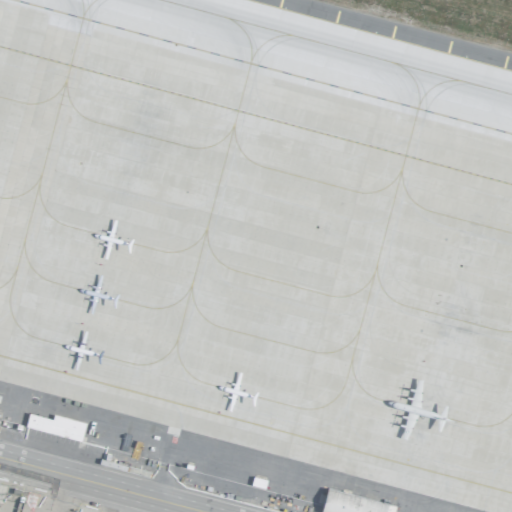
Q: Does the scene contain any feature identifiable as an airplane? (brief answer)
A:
Yes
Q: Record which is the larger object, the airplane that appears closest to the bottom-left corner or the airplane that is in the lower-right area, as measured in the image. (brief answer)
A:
the airplane that is in the lower-right area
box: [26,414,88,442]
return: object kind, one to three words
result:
building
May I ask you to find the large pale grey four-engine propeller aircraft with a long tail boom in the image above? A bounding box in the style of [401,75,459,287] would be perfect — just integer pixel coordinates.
[388,380,456,440]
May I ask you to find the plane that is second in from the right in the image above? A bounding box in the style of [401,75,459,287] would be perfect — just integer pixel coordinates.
[220,374,258,413]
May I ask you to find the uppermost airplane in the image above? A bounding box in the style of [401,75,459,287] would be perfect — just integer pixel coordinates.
[95,220,133,260]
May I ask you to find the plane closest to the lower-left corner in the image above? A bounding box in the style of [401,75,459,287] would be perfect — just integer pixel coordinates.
[66,332,104,371]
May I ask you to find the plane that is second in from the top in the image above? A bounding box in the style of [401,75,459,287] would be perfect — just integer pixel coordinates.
[81,276,118,314]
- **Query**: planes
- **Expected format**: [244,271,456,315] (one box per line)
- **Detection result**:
[95,220,133,260]
[81,276,118,314]
[66,332,104,371]
[388,380,456,440]
[220,374,258,413]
